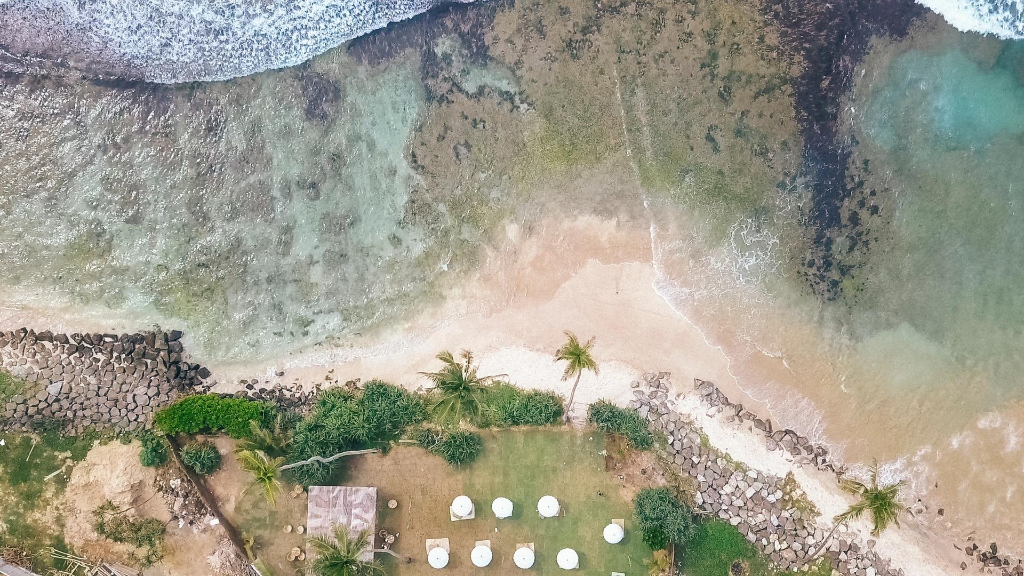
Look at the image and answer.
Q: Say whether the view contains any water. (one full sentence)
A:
Yes, there is water in the image.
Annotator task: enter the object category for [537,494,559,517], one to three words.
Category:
umbrella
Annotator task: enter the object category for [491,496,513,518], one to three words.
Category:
umbrella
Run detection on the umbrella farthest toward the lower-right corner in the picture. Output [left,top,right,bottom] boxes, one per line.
[602,521,625,544]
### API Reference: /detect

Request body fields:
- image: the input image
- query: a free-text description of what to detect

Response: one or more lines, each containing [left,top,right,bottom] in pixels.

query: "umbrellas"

[427,545,450,568]
[491,496,513,518]
[470,543,493,566]
[537,494,559,517]
[602,521,625,544]
[556,547,579,570]
[512,545,535,569]
[451,494,473,517]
